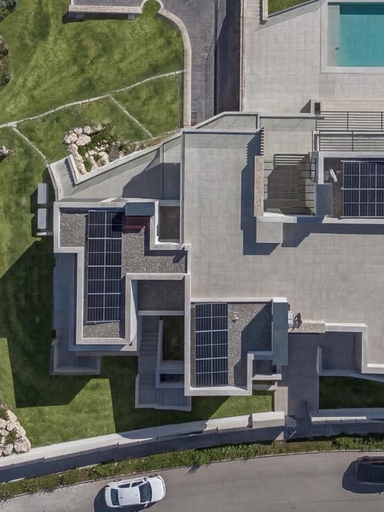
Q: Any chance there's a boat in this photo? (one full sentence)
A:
No, I can't see a single boat in this photo.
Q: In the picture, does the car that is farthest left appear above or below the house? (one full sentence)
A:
The position of the car that is farthest left is below the house.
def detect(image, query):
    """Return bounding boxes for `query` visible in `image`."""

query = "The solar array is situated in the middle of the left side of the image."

[86,208,124,323]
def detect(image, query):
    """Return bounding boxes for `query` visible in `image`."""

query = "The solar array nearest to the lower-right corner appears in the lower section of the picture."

[194,302,230,386]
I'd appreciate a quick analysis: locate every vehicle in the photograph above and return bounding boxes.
[354,452,384,484]
[104,472,167,507]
